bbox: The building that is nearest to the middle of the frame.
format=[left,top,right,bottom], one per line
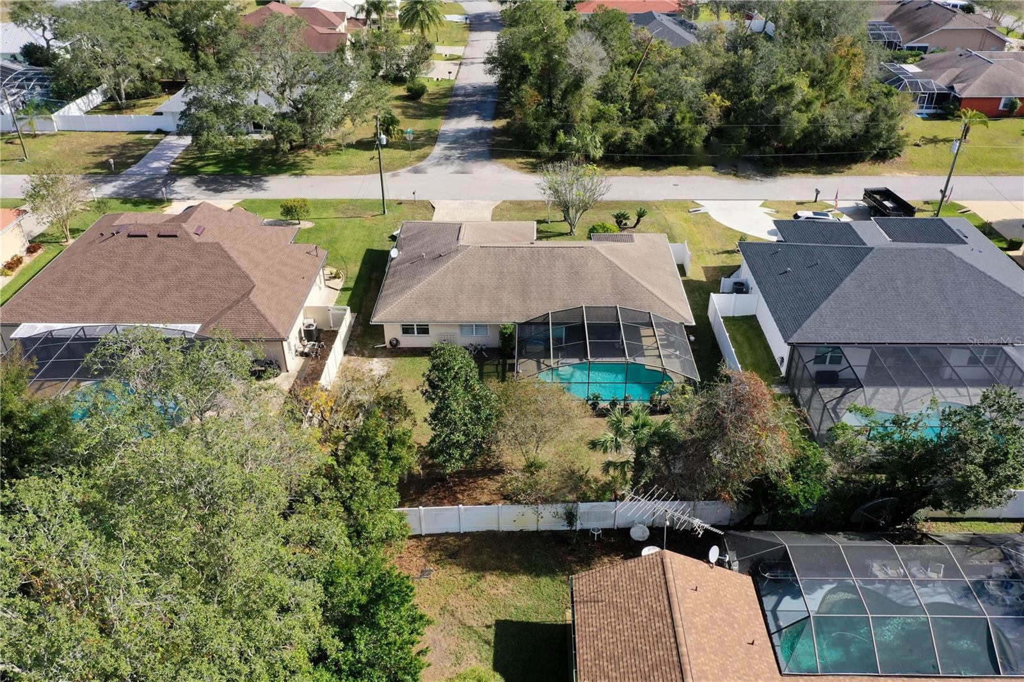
[363,220,695,357]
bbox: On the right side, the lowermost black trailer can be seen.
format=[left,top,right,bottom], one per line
[862,187,918,222]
